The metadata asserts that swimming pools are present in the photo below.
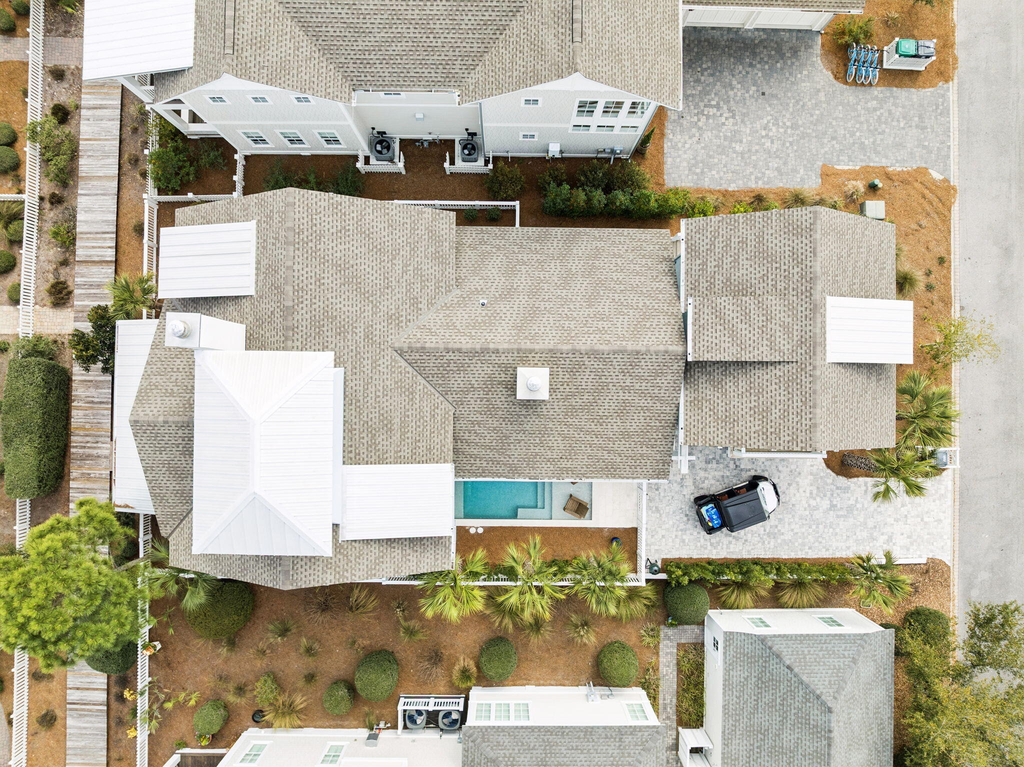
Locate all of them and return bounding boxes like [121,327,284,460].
[457,485,592,520]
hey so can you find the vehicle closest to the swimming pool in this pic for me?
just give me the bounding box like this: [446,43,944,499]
[692,474,784,536]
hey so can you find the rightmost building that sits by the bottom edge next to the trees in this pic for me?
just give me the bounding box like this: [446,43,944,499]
[674,599,897,767]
